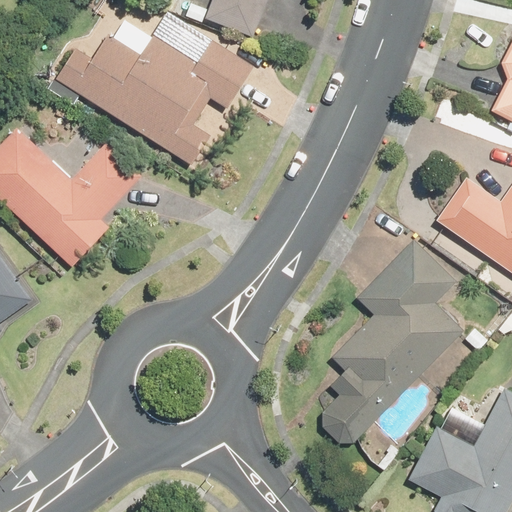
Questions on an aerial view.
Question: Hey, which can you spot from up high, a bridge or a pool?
pool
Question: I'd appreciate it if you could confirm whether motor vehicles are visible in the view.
Yes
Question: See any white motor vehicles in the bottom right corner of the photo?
No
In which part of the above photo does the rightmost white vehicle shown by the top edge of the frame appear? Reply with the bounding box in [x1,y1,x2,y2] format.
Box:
[464,25,494,48]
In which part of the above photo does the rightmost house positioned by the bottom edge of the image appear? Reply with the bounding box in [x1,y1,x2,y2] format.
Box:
[408,388,512,512]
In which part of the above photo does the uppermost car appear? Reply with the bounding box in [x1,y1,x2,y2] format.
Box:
[352,0,372,26]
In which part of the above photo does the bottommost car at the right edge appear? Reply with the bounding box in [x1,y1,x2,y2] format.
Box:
[477,168,502,197]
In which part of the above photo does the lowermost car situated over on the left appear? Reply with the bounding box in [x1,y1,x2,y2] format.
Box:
[128,190,160,206]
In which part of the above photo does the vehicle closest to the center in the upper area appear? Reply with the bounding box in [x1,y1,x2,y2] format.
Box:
[285,150,306,180]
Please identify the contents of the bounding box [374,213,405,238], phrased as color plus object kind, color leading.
white car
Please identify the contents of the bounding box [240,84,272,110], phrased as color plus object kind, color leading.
white car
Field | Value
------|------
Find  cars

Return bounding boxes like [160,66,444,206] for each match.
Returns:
[352,0,372,26]
[322,72,343,106]
[477,168,502,197]
[285,150,306,180]
[240,84,272,110]
[490,149,512,168]
[374,213,405,238]
[236,47,264,68]
[128,190,160,206]
[464,25,494,48]
[470,78,502,96]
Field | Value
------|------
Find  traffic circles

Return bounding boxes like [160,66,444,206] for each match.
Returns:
[136,345,215,422]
